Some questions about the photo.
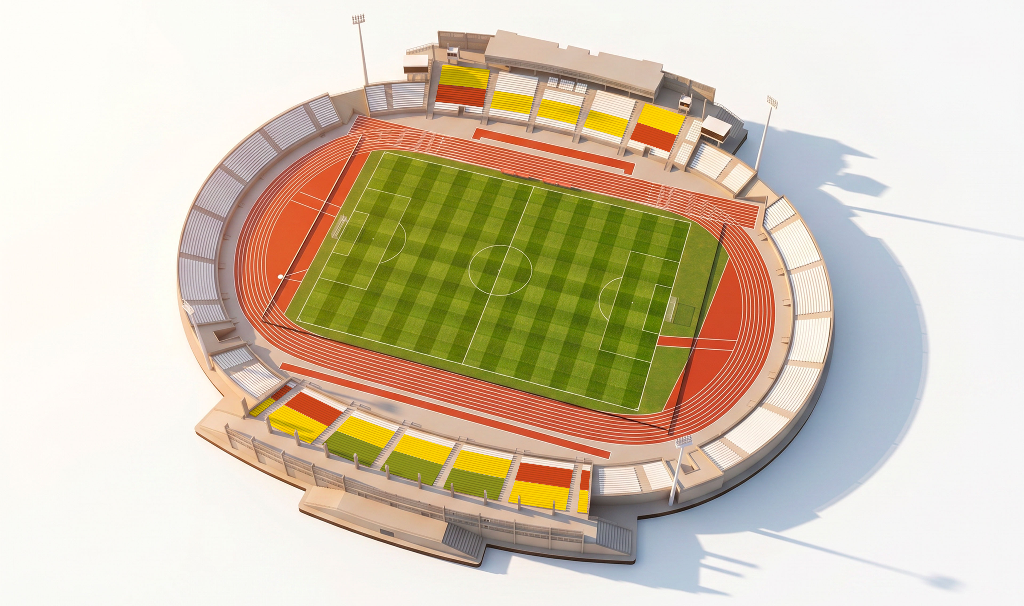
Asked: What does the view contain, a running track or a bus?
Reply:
running track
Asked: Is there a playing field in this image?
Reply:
Yes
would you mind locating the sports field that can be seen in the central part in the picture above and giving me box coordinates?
[297,151,691,410]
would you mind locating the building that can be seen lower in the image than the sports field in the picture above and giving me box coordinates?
[308,491,481,558]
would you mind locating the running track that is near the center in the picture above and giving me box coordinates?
[233,122,776,445]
